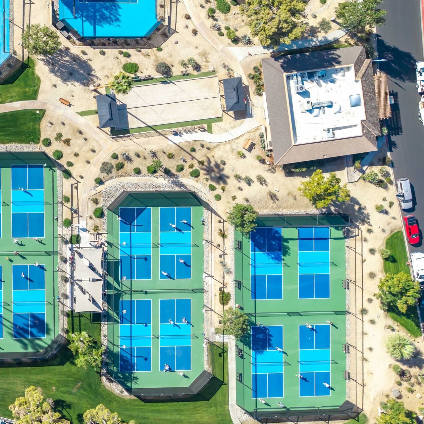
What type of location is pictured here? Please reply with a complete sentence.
The area seen from above is a sports ground.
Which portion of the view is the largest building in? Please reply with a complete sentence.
The largest building is located in the top right region of the scene.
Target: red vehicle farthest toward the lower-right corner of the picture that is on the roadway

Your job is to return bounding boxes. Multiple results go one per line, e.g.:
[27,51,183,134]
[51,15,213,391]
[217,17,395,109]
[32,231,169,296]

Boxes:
[402,214,423,243]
